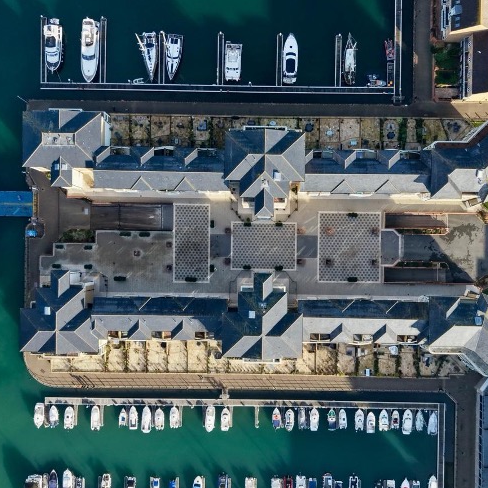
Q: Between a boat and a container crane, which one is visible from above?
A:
boat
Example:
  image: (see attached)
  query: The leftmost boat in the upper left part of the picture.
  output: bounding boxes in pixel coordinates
[44,16,62,72]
